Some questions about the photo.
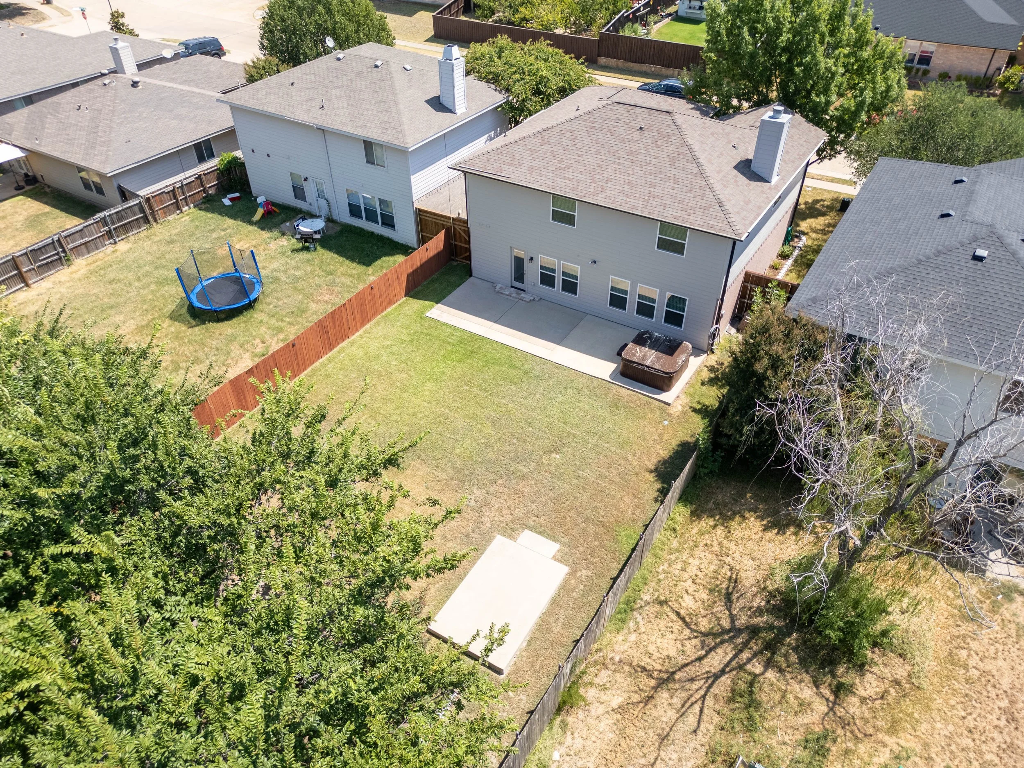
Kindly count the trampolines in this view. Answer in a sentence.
Just 1 trampoline appears in this view.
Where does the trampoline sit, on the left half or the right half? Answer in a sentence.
The trampoline appears in the left half of the scene.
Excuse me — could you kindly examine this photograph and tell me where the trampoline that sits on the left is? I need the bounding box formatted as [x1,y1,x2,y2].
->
[177,242,268,328]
